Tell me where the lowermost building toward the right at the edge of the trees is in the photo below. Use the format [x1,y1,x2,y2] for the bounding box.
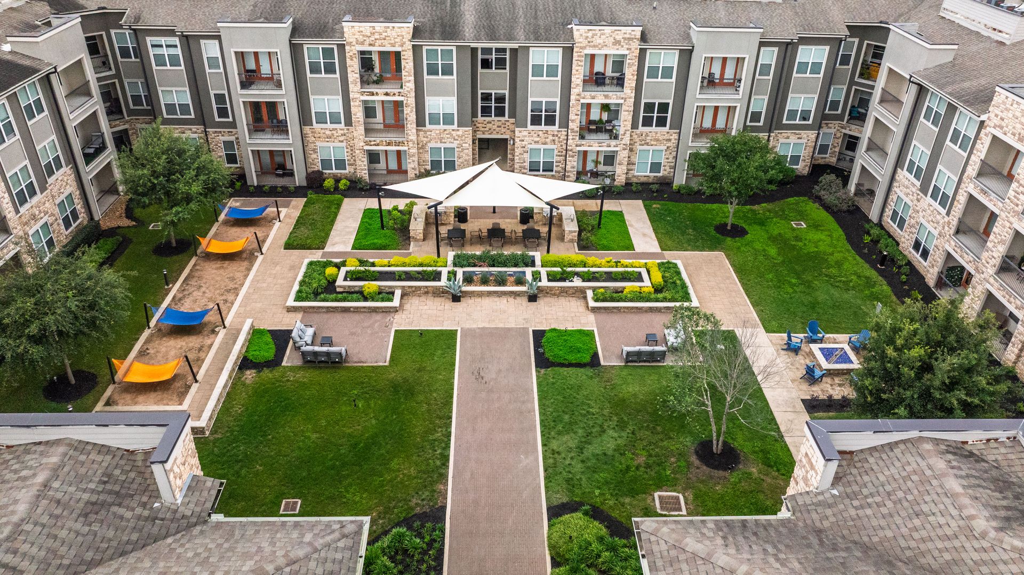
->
[627,416,1024,575]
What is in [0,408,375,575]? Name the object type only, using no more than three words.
building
